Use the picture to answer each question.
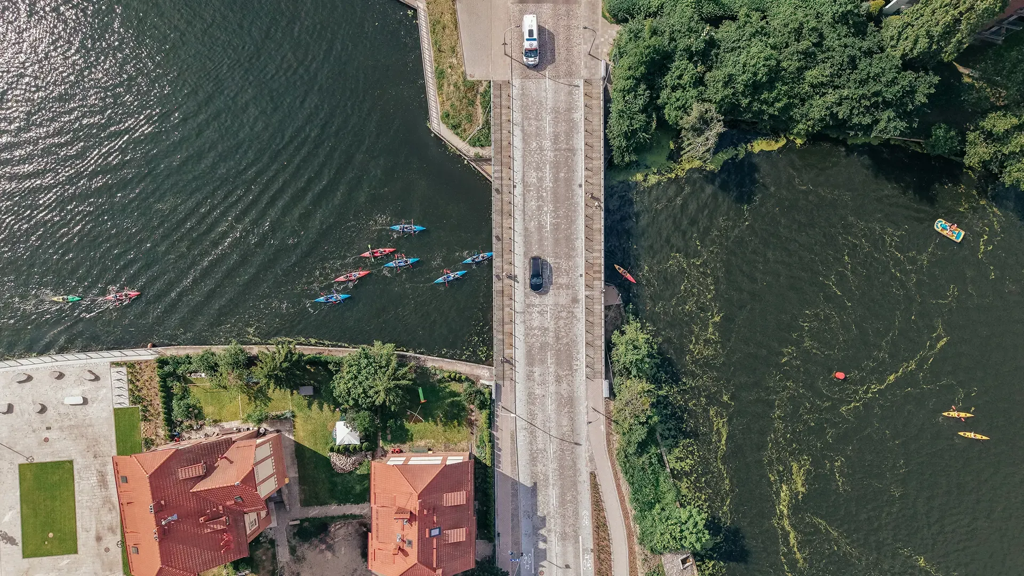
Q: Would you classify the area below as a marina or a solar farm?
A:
marina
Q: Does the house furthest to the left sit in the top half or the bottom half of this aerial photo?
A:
bottom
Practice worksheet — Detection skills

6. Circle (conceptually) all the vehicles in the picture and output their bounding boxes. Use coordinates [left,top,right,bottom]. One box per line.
[523,11,540,63]
[529,256,544,292]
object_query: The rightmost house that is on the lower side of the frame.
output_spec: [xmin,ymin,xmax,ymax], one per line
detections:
[370,450,475,576]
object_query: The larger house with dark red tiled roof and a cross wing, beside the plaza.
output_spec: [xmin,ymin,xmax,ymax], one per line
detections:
[112,429,300,576]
